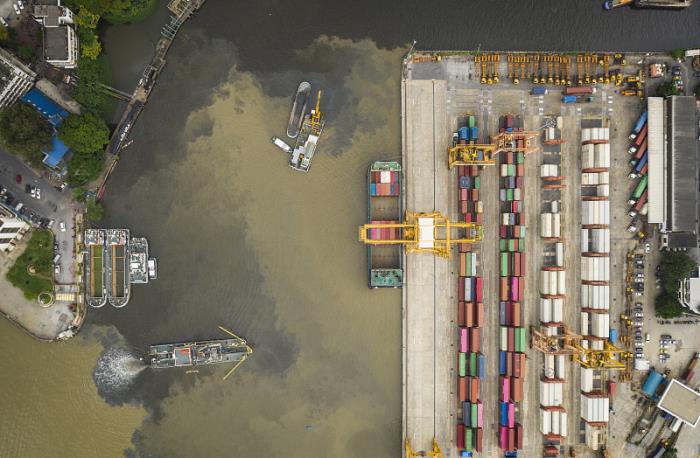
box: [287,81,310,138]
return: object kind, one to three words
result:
ship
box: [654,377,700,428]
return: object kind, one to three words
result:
building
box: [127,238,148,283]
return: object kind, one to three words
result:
boat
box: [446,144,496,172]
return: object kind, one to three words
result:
container crane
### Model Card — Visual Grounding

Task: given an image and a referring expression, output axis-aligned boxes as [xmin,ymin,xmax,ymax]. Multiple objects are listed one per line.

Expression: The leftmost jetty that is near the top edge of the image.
[103,0,204,157]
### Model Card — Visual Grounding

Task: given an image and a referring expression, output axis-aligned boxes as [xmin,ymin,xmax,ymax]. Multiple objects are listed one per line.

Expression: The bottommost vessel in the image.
[145,327,254,383]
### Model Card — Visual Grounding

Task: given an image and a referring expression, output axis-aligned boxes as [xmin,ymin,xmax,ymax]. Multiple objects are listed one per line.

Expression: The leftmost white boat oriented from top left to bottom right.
[273,137,291,153]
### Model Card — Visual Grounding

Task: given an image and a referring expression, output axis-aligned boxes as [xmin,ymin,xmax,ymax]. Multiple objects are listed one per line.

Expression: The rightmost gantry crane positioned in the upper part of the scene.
[491,131,539,160]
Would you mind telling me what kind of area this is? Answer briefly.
port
